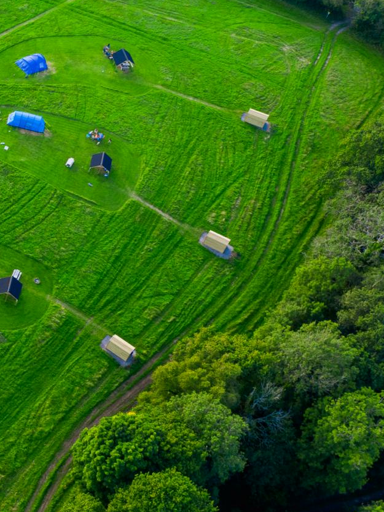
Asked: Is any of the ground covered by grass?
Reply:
Yes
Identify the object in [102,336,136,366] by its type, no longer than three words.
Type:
tent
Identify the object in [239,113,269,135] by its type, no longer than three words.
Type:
tent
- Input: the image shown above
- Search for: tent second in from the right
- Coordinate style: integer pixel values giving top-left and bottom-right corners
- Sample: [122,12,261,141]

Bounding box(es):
[197,233,230,261]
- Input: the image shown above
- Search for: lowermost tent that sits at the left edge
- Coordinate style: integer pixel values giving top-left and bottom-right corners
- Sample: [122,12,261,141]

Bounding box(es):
[4,108,48,135]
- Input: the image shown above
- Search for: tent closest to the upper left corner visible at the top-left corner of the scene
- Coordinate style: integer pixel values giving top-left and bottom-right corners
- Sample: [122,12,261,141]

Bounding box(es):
[16,50,49,76]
